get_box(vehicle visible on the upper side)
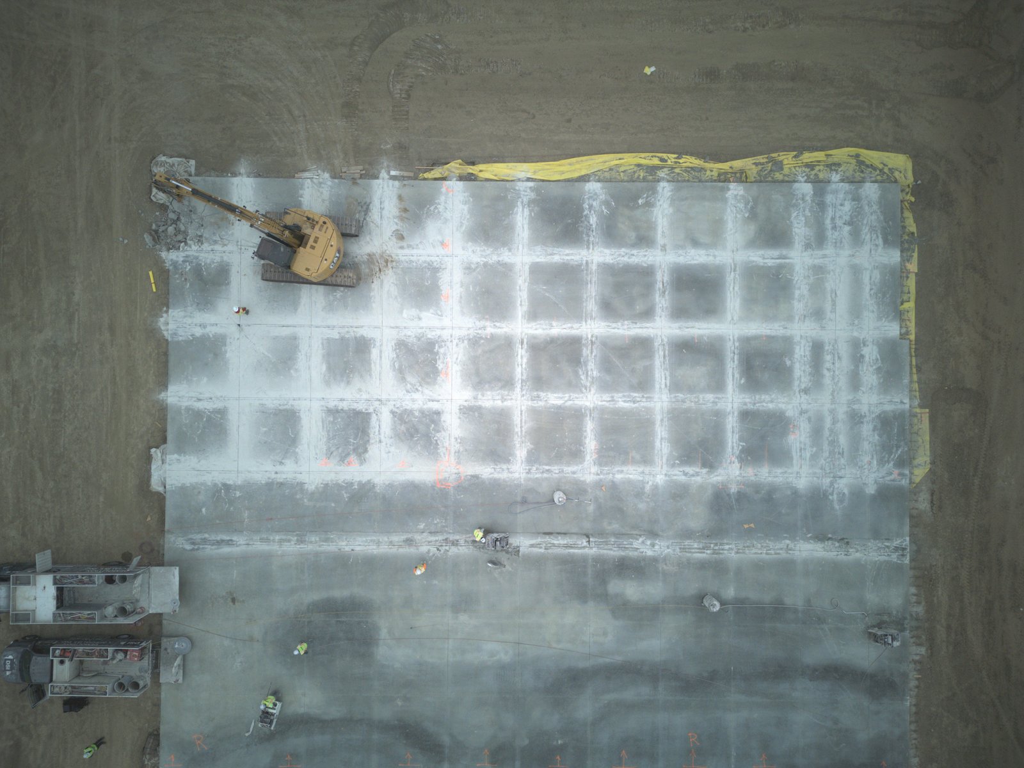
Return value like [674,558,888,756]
[149,167,364,285]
